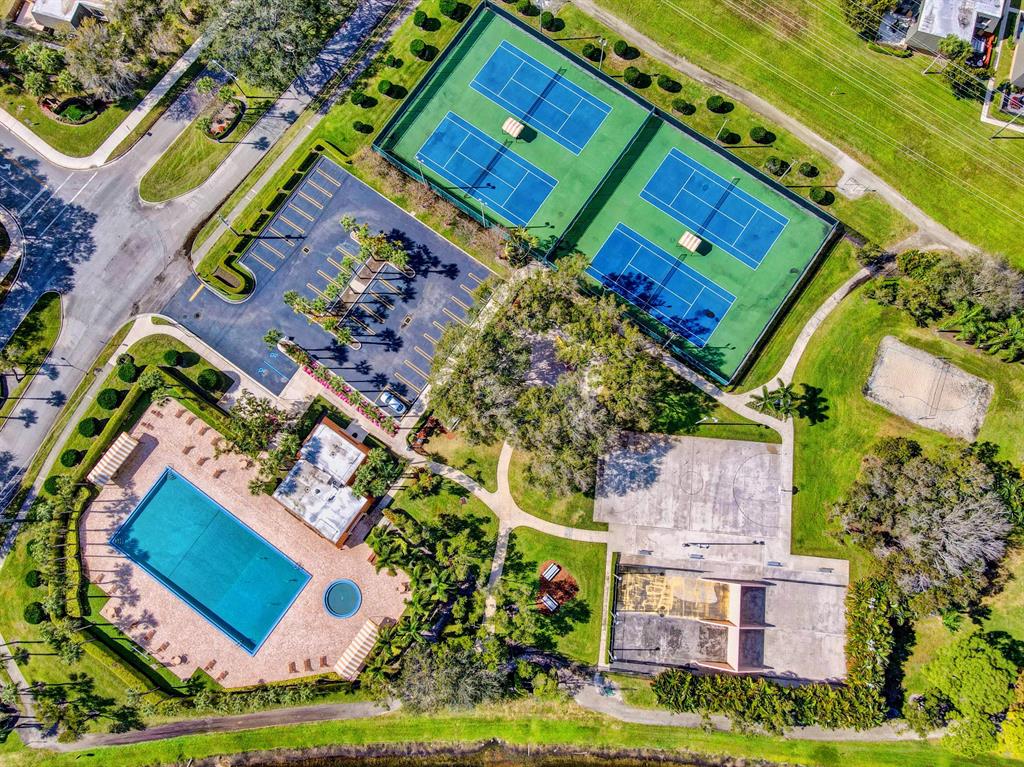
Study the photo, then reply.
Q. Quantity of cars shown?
1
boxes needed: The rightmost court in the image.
[869,346,983,428]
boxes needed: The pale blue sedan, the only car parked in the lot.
[380,392,407,415]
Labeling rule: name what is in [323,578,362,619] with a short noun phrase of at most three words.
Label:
swimming pool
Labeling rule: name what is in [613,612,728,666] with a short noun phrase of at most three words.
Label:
sports court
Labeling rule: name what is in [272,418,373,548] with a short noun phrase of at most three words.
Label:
building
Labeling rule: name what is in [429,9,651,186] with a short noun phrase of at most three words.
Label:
tennis court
